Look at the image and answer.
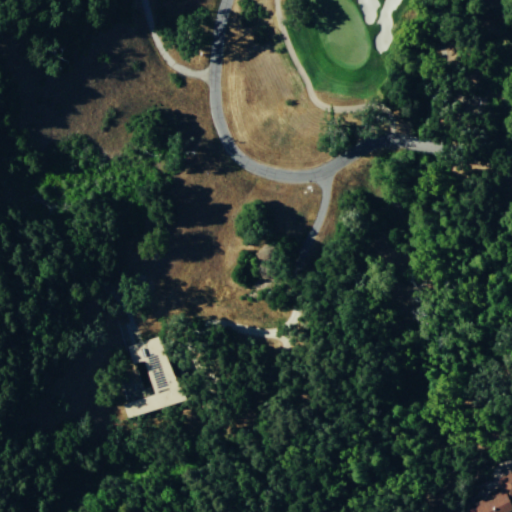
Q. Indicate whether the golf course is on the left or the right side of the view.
right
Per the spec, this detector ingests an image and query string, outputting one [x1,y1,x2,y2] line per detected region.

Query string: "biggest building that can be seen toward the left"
[124,337,183,418]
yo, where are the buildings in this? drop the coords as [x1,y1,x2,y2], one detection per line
[124,337,183,418]
[254,240,279,280]
[474,470,512,512]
